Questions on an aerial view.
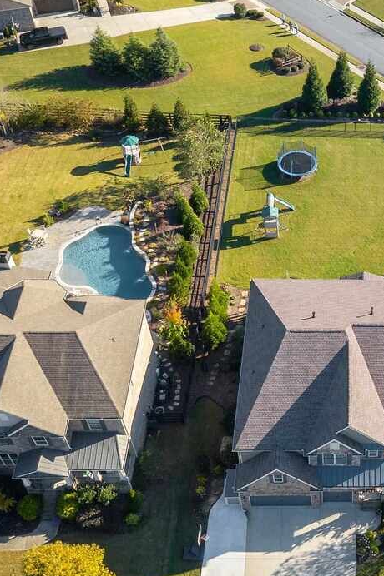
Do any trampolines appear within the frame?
Yes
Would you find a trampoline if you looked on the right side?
Yes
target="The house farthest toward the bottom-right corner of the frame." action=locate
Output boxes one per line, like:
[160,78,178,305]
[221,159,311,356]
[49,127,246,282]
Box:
[222,269,384,509]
